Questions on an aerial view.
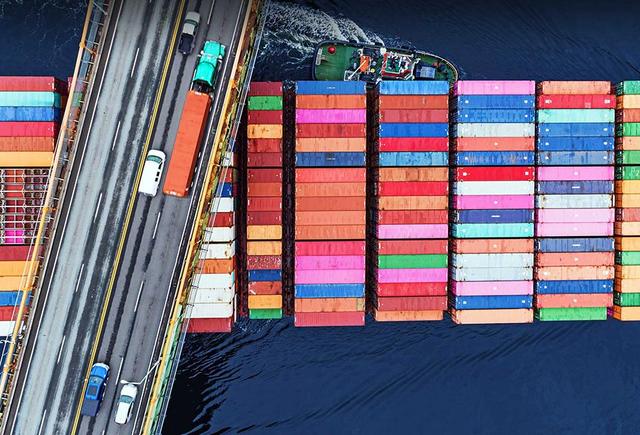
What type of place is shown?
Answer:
port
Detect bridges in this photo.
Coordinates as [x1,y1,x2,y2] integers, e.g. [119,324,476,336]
[0,0,271,435]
